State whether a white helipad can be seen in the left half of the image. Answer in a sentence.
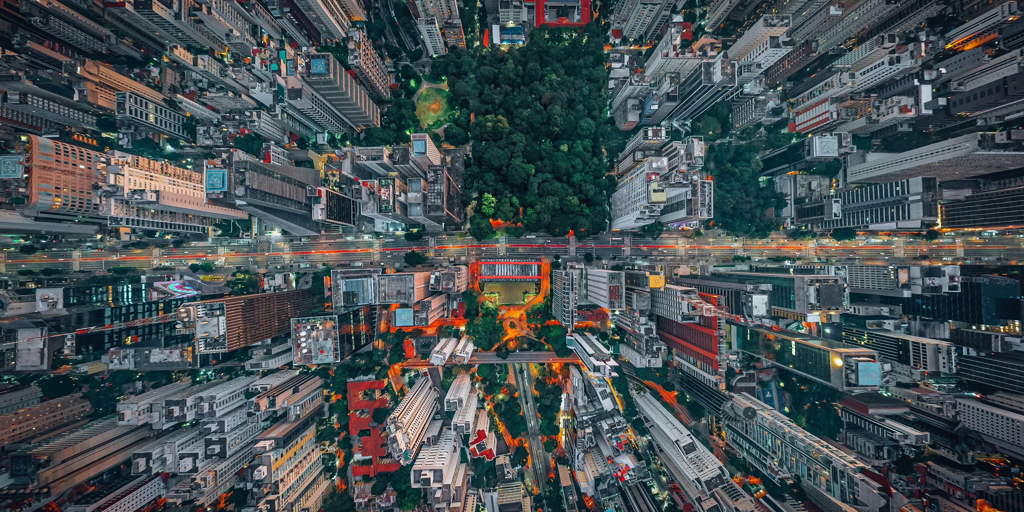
No, in the left half of the image there is no white helipad.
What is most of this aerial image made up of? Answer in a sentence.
The largest share of the image is taken up by buildings.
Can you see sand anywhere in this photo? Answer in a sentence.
No, there is no sand in the image.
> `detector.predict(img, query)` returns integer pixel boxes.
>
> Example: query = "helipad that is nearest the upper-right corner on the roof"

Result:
[815,136,838,156]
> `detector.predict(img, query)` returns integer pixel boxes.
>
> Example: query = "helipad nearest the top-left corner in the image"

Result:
[0,156,25,178]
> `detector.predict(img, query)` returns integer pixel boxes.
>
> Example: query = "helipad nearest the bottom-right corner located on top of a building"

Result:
[855,362,881,385]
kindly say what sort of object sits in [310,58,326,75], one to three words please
helipad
